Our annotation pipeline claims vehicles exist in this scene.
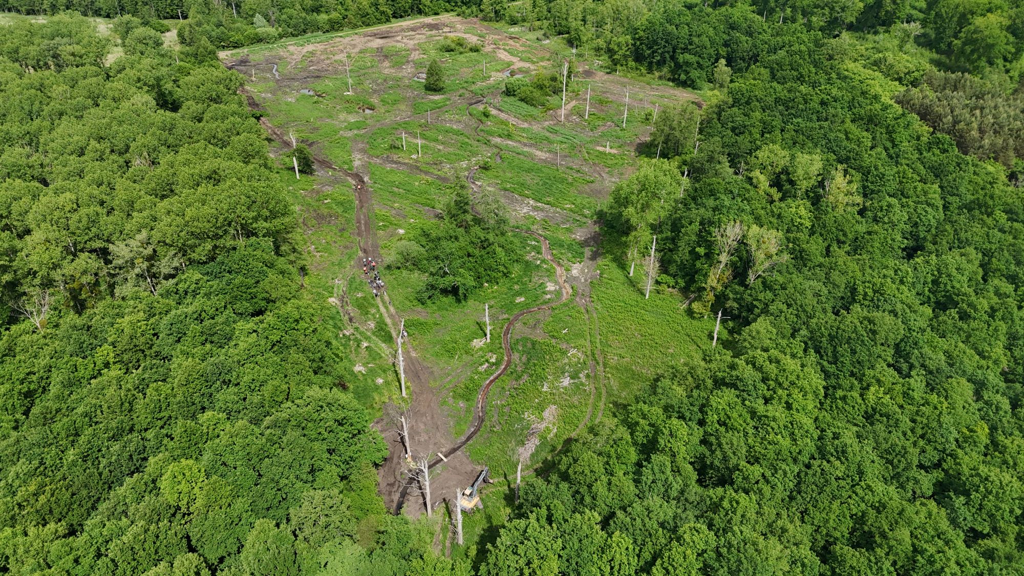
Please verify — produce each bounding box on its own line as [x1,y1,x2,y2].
[460,465,494,514]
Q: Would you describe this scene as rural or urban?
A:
rural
